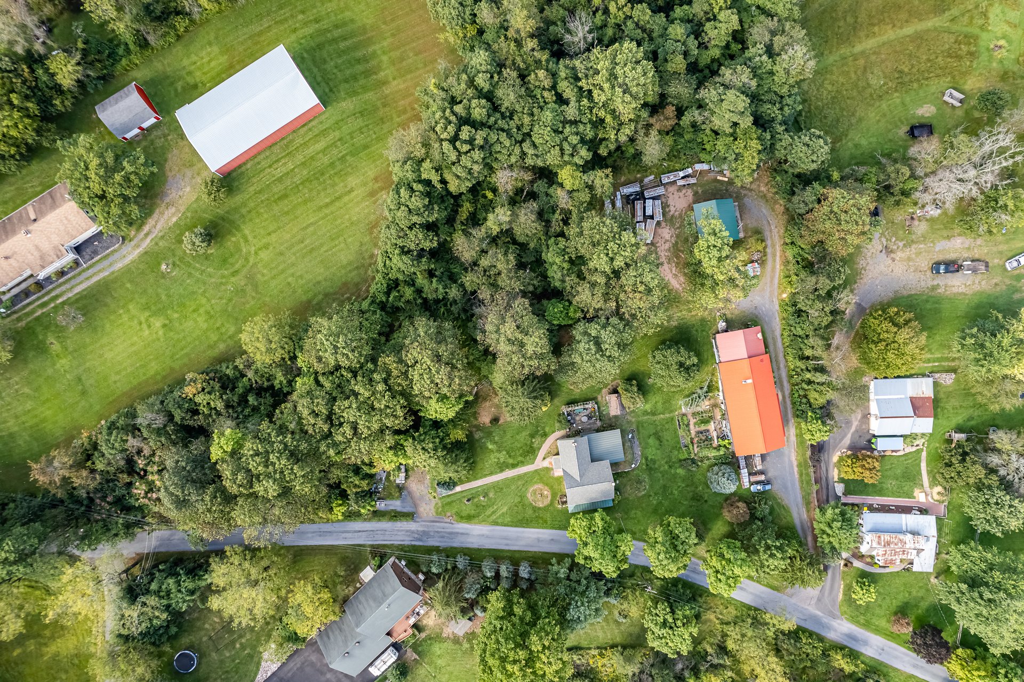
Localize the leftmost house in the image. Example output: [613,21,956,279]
[0,181,101,289]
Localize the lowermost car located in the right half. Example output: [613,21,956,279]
[751,481,774,493]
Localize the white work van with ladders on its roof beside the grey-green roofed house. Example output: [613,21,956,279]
[366,649,398,682]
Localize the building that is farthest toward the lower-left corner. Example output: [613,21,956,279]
[317,557,430,677]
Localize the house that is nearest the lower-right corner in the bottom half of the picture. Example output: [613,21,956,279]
[857,511,942,572]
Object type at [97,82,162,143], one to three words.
barn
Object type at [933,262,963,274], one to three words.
vehicle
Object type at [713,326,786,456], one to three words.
barn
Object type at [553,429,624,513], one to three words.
house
